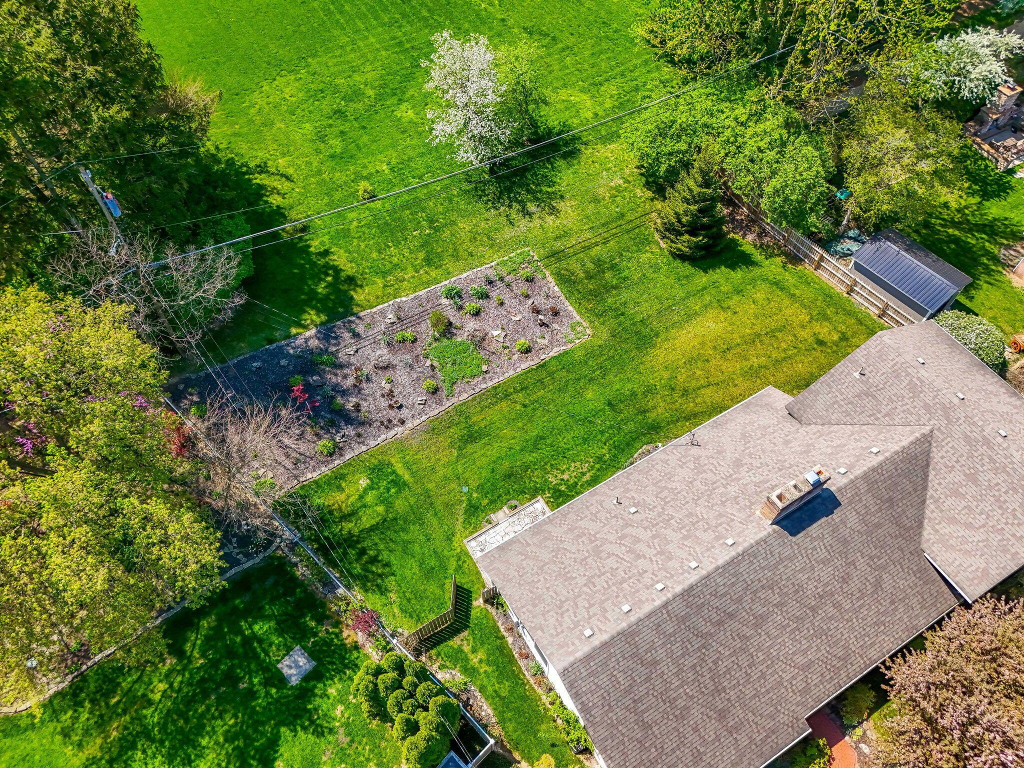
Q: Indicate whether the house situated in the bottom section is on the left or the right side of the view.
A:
right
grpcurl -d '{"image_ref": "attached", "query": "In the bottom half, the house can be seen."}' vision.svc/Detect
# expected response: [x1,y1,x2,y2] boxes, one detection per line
[476,314,1024,768]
